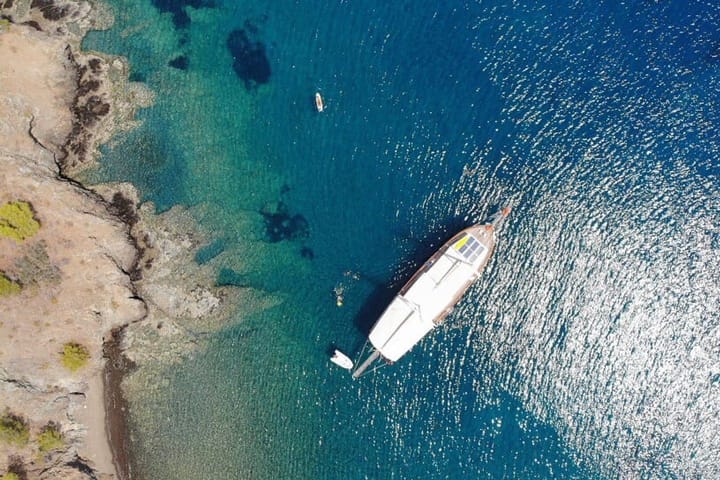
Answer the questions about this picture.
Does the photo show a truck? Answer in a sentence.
No, the photo shows no truck.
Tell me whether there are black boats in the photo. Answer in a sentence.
No, I find no black boat anywhere in the image.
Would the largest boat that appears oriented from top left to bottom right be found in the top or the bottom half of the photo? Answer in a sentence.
The largest boat that appears oriented from top left to bottom right is in the bottom half of the image.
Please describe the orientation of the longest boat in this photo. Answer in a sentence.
The longest boat is oriented at an angle.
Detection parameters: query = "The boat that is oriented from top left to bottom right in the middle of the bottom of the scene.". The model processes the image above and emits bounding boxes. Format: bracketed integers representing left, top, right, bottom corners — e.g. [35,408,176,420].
[330,349,355,369]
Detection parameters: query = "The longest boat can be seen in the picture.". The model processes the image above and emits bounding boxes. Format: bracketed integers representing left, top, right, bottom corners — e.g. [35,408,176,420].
[352,207,513,372]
